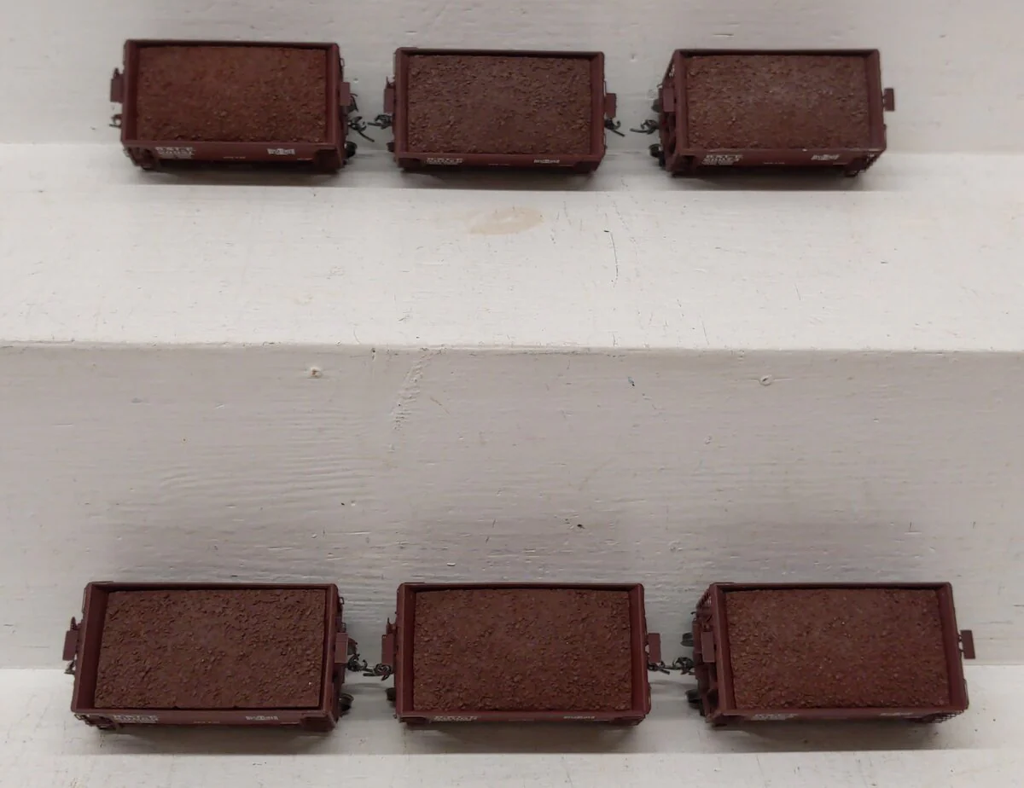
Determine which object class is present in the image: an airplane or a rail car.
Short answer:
rail car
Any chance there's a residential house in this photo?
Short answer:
No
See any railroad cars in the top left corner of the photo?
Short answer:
Yes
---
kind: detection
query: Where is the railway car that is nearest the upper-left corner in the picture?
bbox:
[111,44,374,170]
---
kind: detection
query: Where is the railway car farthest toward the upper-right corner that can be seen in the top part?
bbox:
[635,52,897,175]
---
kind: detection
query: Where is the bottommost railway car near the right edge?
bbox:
[663,584,978,725]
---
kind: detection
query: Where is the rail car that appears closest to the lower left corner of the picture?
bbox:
[62,584,376,726]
